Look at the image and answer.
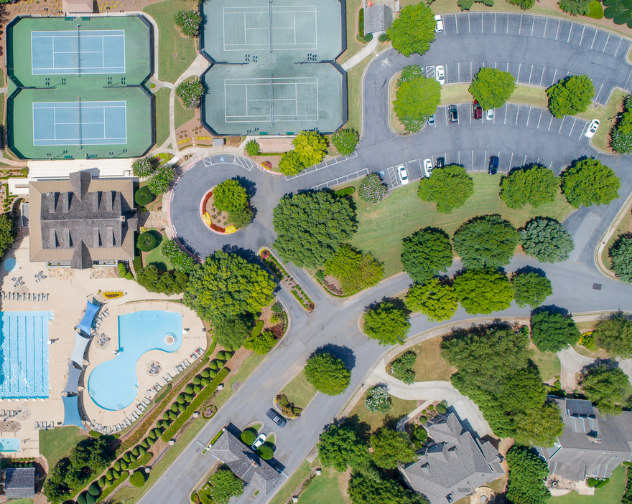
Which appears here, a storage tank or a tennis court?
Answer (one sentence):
There is a tennis court in the scene.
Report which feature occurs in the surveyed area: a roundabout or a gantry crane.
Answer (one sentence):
This aerial view contains a roundabout.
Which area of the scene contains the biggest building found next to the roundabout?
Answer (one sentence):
The biggest building found next to the roundabout appears toward the left of the photo.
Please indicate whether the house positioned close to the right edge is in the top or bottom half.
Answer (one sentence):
The house positioned close to the right edge sits in the bottom half of the picture.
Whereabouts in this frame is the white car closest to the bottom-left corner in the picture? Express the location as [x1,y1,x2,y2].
[250,432,267,450]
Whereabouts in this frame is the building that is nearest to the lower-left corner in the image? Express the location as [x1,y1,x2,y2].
[0,465,36,499]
